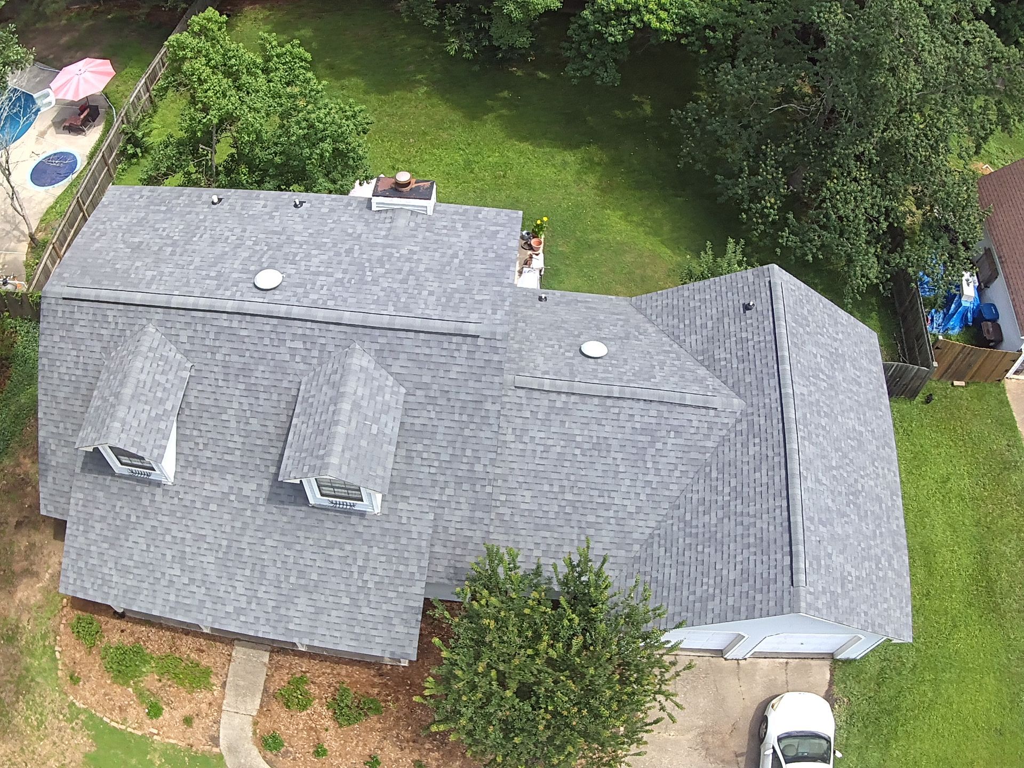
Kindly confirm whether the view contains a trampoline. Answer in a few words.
No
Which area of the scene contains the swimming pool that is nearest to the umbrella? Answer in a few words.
top left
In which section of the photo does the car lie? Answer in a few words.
bottom right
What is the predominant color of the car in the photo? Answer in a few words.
white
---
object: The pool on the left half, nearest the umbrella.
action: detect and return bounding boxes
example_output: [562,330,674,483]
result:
[0,83,55,150]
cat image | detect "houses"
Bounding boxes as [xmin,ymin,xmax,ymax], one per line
[40,173,912,667]
[969,159,1024,380]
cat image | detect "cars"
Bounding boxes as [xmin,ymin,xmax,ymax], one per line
[757,691,851,768]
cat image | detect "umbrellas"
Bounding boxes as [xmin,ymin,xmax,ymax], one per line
[50,58,116,101]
